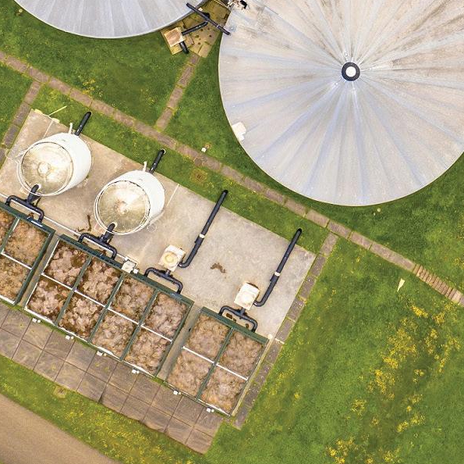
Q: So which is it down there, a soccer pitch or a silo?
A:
silo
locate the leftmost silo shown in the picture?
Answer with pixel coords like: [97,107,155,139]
[4,110,92,224]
